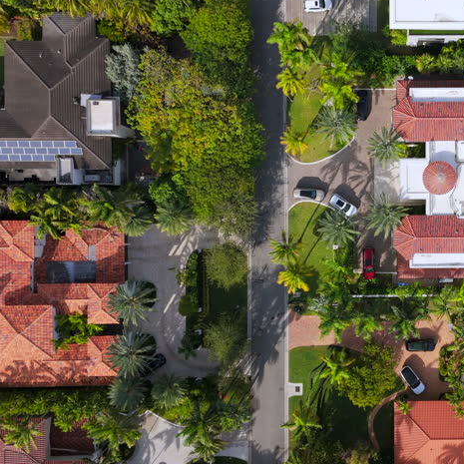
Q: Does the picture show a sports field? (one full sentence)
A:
No, there's no sports field here.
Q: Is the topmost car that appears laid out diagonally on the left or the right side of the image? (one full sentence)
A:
The topmost car that appears laid out diagonally is on the right side of the image.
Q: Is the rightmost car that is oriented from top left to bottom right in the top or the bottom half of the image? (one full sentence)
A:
The rightmost car that is oriented from top left to bottom right sits in the bottom half of the picture.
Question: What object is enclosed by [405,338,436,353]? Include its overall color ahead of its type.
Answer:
black car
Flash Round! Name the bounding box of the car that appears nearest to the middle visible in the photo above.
[294,189,326,203]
